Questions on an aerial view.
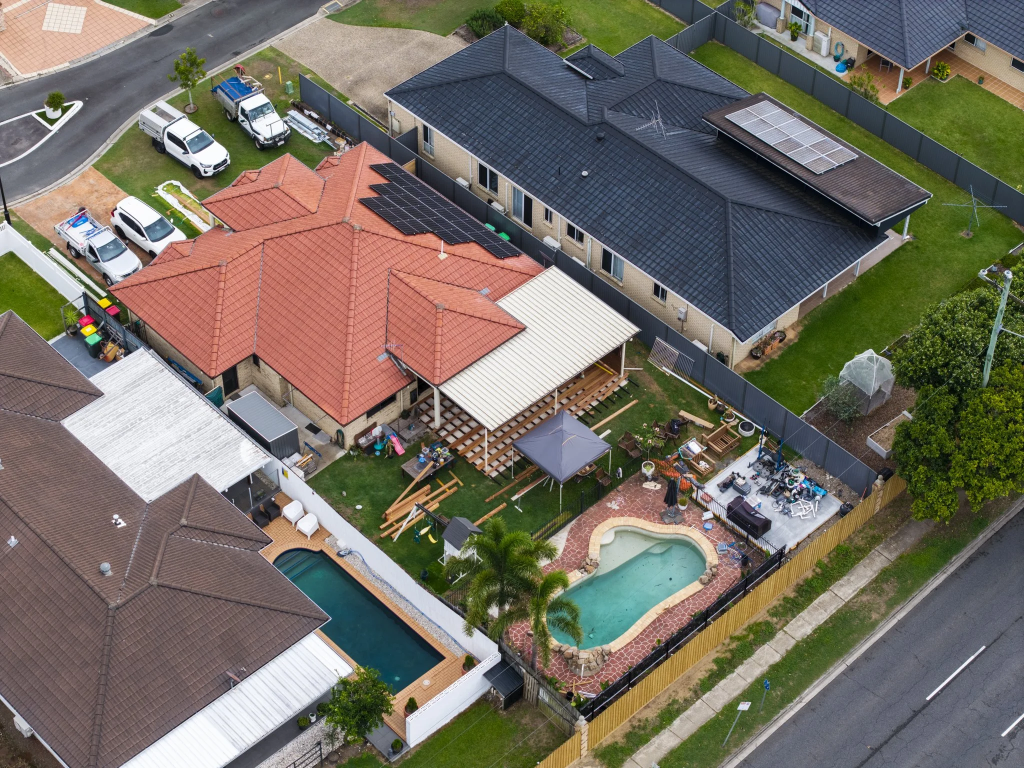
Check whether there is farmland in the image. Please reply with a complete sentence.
No, there's no farmland in this view.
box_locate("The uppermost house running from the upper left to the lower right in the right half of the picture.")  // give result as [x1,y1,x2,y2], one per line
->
[380,23,888,370]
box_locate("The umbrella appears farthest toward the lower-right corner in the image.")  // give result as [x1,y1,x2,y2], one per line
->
[651,472,691,530]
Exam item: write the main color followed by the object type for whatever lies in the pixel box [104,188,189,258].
white car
